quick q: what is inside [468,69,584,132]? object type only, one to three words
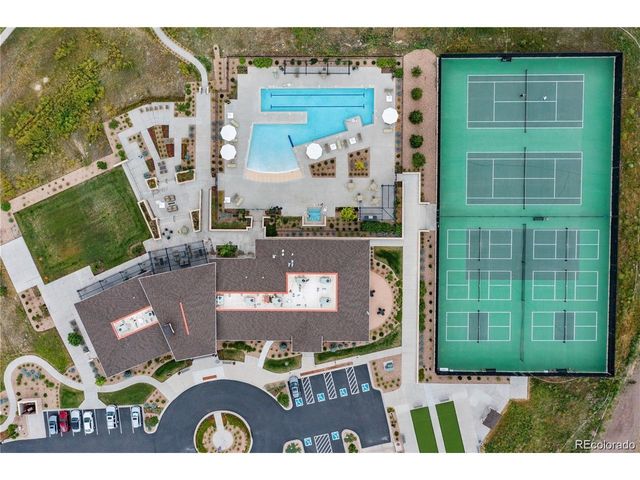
tennis court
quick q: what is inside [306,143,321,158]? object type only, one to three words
umbrella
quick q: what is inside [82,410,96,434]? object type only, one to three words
vehicle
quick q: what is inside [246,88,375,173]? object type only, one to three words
swimming pool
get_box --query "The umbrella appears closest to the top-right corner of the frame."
[382,108,398,123]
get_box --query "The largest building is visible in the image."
[74,238,371,378]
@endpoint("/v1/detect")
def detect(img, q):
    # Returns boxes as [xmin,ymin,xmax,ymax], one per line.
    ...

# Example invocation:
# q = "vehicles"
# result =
[106,404,119,429]
[48,414,61,435]
[58,409,72,433]
[288,374,300,398]
[70,409,84,432]
[82,410,96,434]
[131,405,143,428]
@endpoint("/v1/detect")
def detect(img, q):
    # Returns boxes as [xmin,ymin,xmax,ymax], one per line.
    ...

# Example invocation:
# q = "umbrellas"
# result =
[382,108,398,123]
[221,144,236,159]
[221,124,236,140]
[306,143,321,158]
